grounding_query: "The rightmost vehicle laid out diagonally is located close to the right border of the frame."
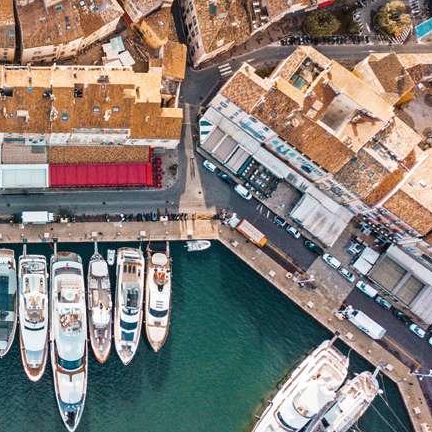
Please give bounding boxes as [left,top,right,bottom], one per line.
[408,321,429,340]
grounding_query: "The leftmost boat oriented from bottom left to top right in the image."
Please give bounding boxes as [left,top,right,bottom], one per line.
[251,331,355,432]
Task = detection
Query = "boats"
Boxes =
[86,239,114,362]
[313,365,399,432]
[19,238,50,386]
[112,238,145,367]
[0,246,18,361]
[184,239,212,251]
[48,239,90,432]
[109,248,116,267]
[251,331,355,432]
[144,240,174,353]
